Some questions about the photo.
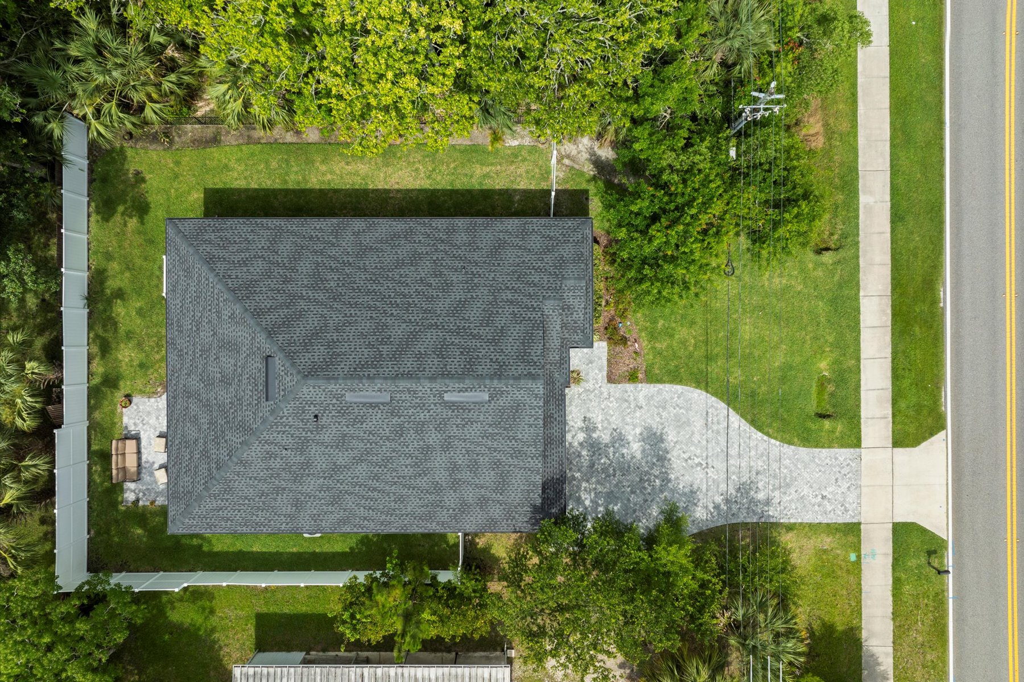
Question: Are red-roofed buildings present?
No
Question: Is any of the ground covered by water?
No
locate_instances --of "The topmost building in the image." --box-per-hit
[164,215,595,535]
